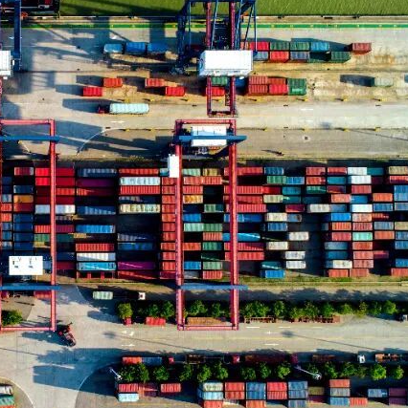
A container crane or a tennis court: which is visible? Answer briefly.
container crane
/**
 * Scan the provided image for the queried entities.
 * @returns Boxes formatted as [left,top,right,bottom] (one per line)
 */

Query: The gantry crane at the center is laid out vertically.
[156,119,252,330]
